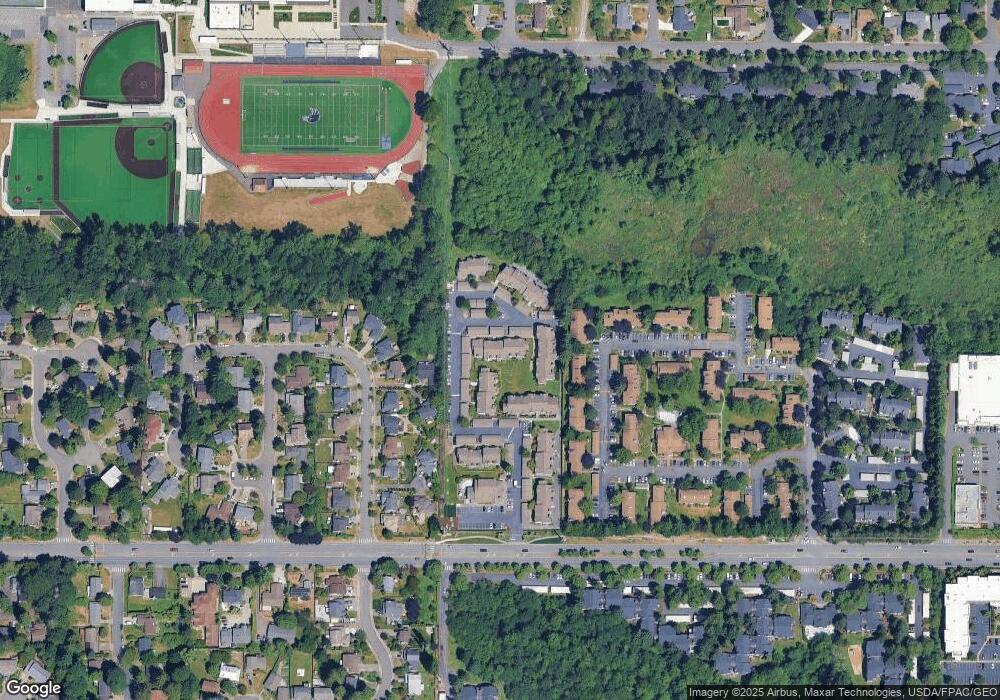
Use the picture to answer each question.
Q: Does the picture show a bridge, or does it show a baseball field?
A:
baseball field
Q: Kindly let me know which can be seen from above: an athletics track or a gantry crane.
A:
athletics track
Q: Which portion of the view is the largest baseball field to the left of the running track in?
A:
top left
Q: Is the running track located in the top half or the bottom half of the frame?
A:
top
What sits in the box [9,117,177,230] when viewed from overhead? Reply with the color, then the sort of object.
green baseball field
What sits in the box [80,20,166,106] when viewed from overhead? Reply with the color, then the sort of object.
green baseball field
